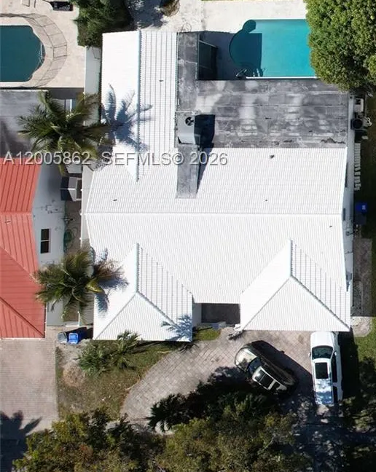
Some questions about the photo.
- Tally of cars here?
2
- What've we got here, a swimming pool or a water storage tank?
swimming pool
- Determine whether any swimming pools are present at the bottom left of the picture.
No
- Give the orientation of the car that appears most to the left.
diagonally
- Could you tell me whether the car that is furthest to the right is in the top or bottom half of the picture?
bottom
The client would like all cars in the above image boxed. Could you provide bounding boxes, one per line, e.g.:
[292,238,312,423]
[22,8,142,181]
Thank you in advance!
[236,348,308,408]
[306,331,346,406]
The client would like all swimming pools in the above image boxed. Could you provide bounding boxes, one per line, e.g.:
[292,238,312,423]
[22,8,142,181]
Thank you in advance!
[0,23,50,84]
[228,17,330,78]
